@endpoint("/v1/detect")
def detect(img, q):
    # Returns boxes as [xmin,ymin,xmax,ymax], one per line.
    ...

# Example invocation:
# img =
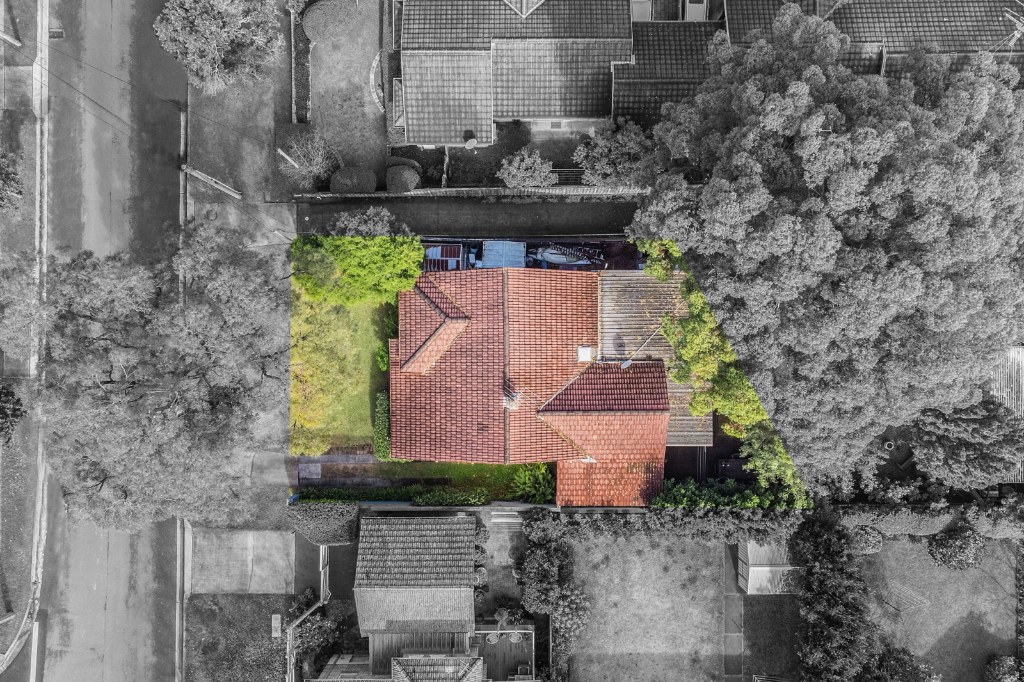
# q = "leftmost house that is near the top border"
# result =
[393,0,634,155]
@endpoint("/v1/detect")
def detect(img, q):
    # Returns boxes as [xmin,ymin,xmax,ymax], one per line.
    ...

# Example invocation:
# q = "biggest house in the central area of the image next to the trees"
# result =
[389,268,670,508]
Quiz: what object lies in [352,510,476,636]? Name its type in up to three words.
house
